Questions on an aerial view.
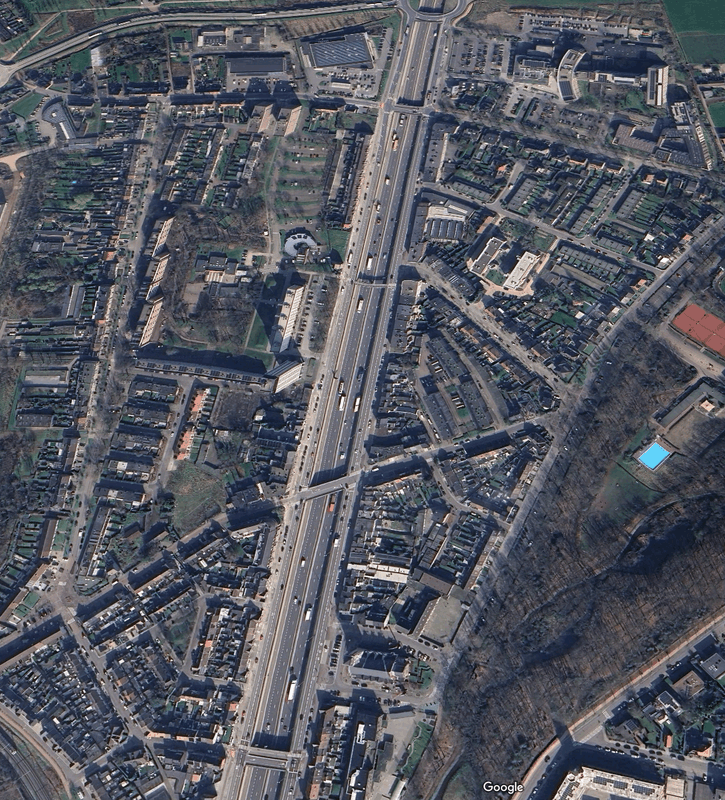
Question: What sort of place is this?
residential area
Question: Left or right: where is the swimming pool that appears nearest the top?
right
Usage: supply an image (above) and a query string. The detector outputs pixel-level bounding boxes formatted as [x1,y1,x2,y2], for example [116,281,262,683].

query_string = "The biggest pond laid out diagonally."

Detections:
[615,516,718,576]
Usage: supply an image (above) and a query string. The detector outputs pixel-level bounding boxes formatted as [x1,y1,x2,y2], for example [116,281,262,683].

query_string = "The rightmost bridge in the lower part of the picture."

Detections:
[303,475,348,501]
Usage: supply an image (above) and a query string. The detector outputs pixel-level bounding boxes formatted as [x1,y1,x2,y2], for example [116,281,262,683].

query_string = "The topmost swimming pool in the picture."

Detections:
[638,441,672,473]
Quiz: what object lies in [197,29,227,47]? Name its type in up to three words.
building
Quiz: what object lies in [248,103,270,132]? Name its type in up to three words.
building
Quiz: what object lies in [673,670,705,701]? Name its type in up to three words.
house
